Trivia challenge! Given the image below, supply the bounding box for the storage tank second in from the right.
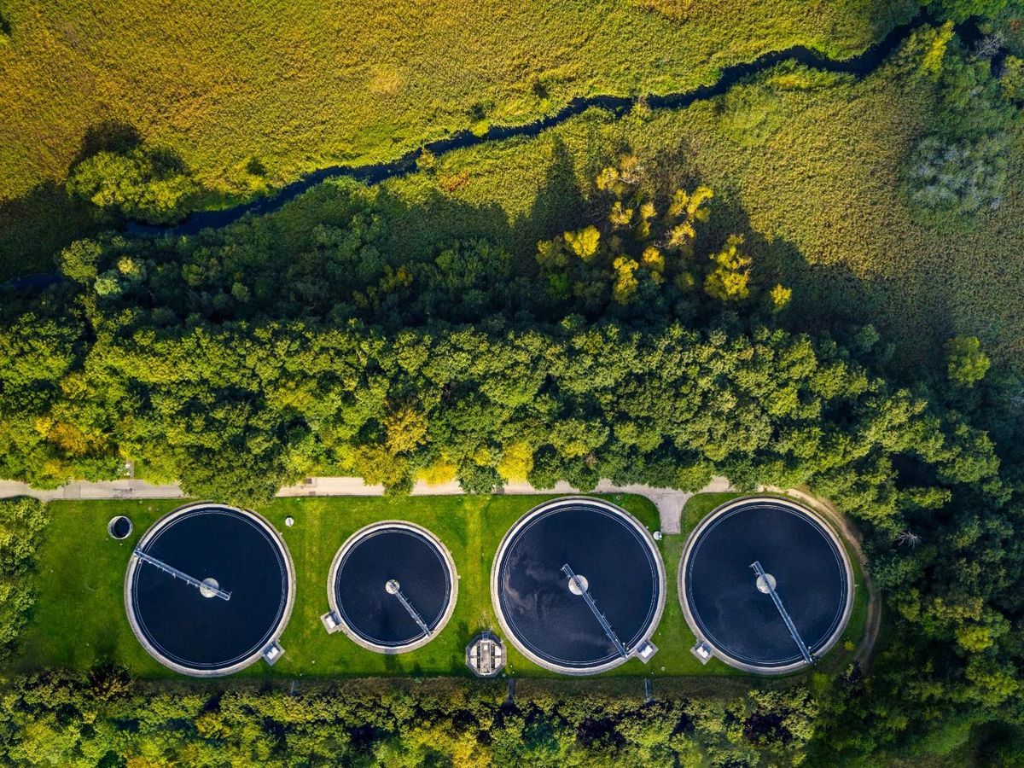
[490,498,666,675]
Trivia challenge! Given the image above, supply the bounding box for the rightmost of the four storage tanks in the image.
[678,498,855,675]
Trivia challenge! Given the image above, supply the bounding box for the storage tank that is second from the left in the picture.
[320,521,459,654]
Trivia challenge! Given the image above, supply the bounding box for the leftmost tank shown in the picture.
[123,504,296,676]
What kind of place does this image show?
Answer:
industrial area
